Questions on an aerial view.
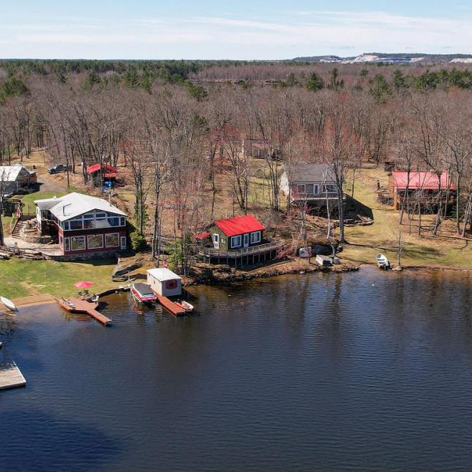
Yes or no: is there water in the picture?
Yes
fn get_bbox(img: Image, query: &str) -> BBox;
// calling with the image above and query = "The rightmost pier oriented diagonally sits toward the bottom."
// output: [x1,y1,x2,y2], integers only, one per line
[159,296,192,317]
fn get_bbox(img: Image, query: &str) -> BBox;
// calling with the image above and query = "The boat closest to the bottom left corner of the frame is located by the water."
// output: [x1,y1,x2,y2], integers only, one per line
[1,295,18,311]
